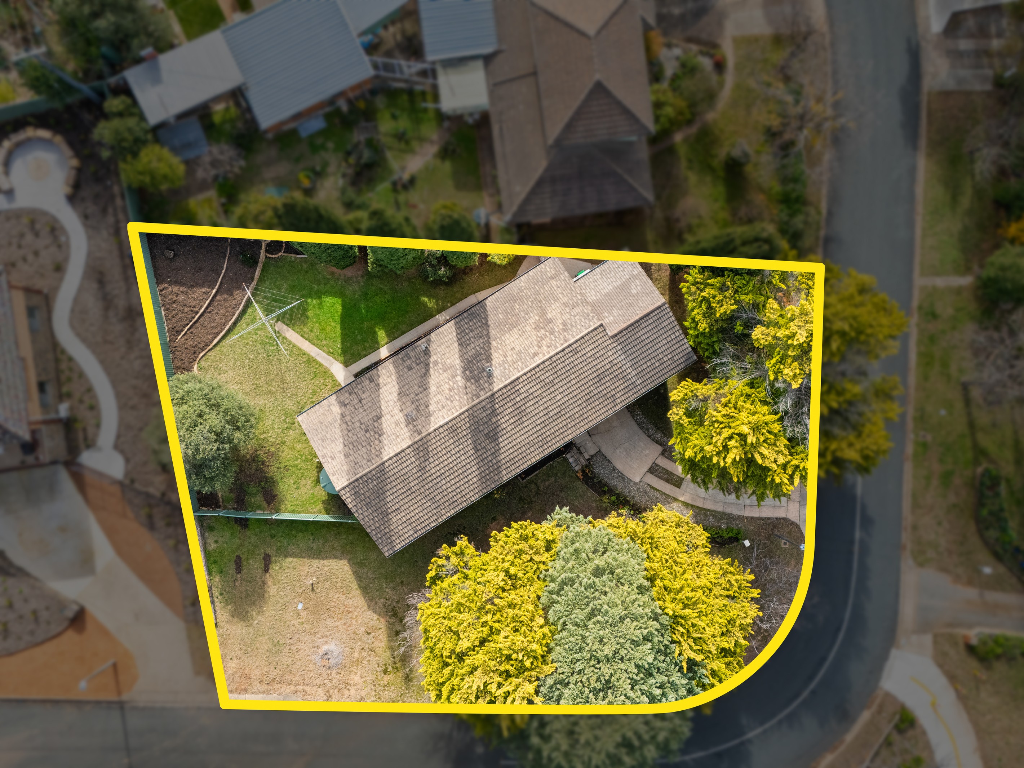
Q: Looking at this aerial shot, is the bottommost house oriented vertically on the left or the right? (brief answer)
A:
left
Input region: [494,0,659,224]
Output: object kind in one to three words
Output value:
house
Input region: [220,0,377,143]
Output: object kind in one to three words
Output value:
building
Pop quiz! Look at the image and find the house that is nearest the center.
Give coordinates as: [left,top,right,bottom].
[296,246,698,559]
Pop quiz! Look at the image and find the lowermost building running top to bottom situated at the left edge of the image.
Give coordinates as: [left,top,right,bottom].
[0,271,78,466]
